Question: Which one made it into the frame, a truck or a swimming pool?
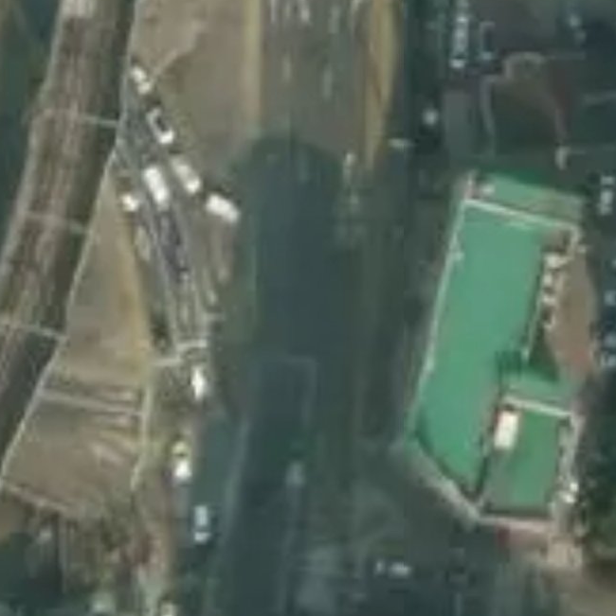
truck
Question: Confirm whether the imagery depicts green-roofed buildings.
Yes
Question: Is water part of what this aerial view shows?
No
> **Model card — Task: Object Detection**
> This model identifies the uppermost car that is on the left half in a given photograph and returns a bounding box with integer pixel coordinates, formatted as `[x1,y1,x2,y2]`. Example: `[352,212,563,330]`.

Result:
[132,60,156,97]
